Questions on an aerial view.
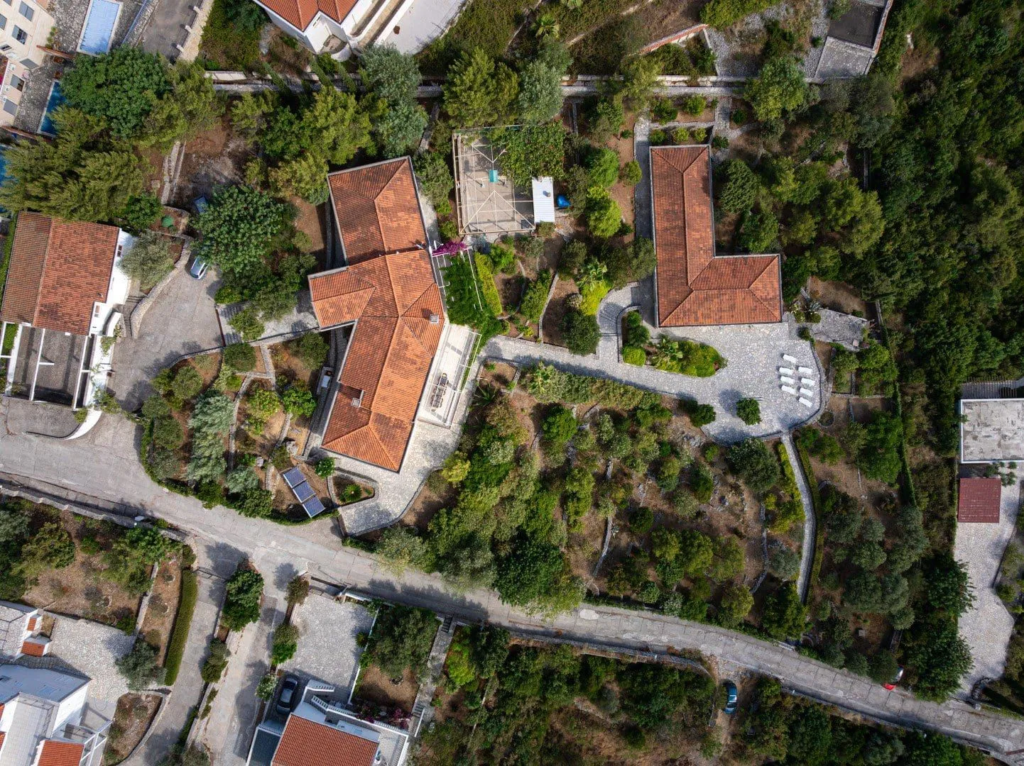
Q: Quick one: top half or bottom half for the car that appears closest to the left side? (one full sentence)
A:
It is in the top half that the car that appears closest to the left side appears.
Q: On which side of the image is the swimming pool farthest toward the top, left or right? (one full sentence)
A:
The swimming pool farthest toward the top appears in the left half of the scene.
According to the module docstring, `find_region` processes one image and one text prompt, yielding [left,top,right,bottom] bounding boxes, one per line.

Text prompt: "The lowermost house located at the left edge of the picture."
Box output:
[0,648,112,766]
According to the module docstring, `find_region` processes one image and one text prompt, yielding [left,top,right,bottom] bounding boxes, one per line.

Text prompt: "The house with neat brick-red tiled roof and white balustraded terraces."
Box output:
[271,710,379,766]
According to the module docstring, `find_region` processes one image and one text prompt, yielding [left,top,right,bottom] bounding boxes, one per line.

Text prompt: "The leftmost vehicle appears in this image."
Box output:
[188,251,213,284]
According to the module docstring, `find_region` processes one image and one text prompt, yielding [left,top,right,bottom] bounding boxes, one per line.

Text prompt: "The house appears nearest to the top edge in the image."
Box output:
[257,0,368,56]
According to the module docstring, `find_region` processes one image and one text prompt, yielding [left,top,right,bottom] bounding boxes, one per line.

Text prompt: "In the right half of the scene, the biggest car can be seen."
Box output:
[720,679,739,714]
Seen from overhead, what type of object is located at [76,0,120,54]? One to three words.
swimming pool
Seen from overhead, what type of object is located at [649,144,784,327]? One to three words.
house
